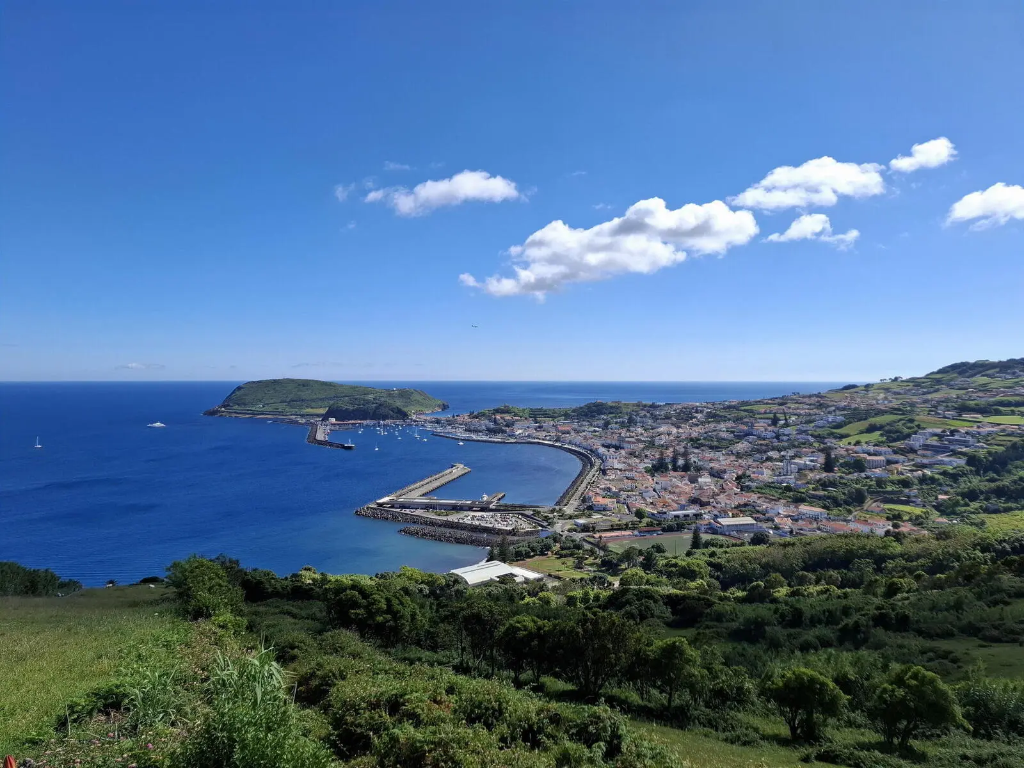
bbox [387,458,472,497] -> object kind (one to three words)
pier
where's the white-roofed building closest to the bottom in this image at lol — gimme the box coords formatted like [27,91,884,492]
[443,560,552,586]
